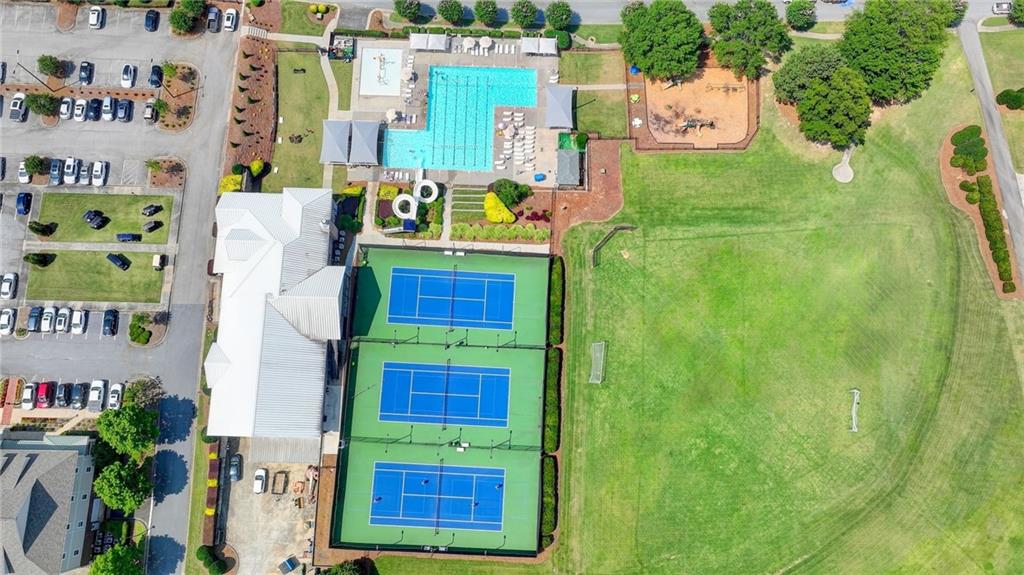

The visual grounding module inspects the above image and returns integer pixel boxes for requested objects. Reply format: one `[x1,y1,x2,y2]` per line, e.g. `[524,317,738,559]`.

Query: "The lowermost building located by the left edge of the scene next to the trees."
[0,431,92,575]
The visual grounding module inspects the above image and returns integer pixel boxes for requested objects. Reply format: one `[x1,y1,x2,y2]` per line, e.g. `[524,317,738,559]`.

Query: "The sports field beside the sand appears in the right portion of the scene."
[561,154,957,575]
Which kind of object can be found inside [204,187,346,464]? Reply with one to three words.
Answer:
building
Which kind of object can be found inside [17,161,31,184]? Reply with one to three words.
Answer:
car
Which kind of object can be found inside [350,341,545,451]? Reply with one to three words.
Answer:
tennis court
